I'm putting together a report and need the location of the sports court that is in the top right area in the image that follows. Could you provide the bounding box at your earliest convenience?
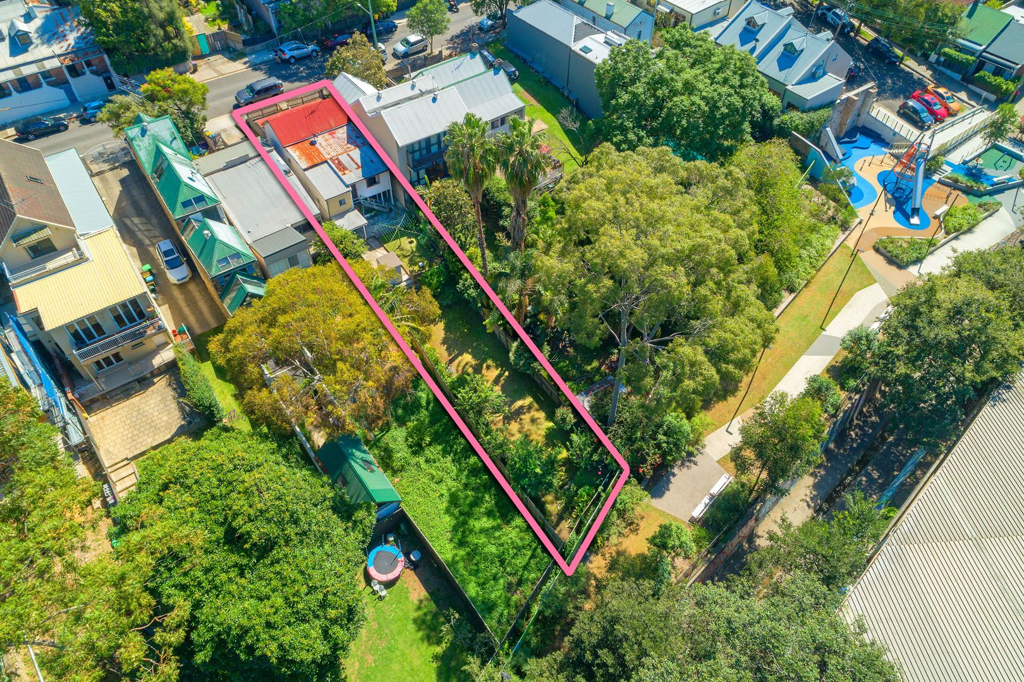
[961,144,1024,196]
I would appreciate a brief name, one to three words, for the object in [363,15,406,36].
car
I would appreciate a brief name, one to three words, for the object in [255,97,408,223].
house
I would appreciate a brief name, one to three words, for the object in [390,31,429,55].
car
